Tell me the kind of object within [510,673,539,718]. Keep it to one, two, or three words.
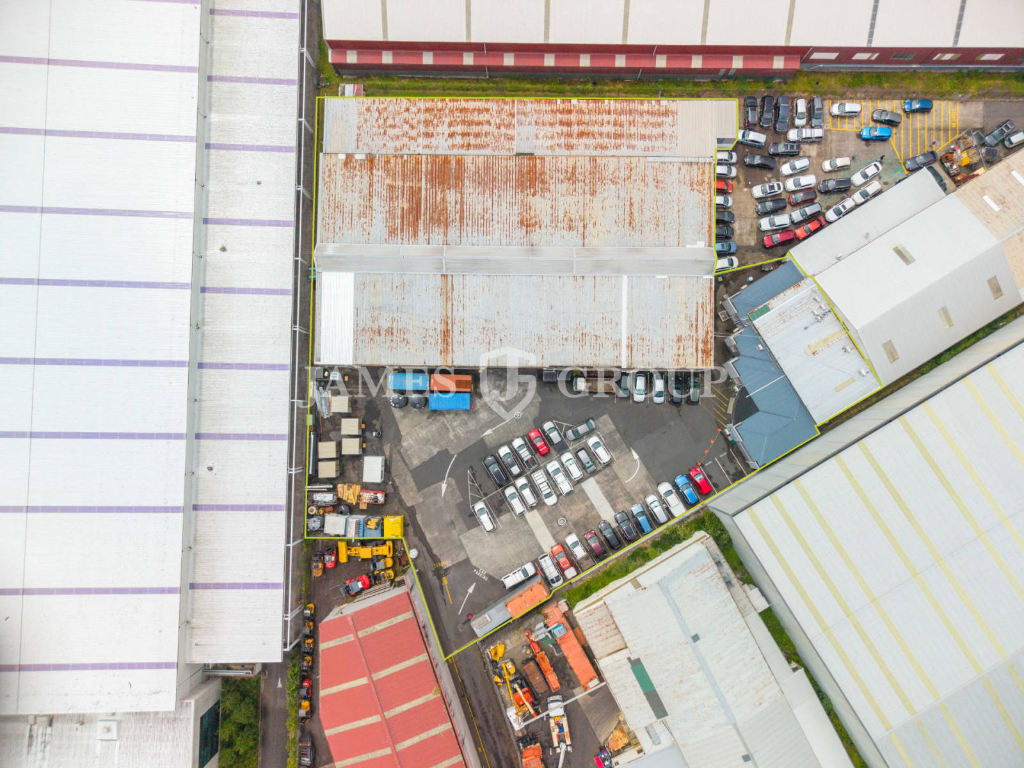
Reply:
crane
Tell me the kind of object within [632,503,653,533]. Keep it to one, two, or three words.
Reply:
car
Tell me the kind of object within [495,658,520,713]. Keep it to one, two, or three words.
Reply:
crane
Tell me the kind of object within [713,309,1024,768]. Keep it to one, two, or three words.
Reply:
warehouse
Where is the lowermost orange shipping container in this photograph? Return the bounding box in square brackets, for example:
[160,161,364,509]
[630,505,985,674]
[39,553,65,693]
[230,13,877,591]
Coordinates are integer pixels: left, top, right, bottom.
[541,595,600,688]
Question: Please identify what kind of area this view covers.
industrial area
